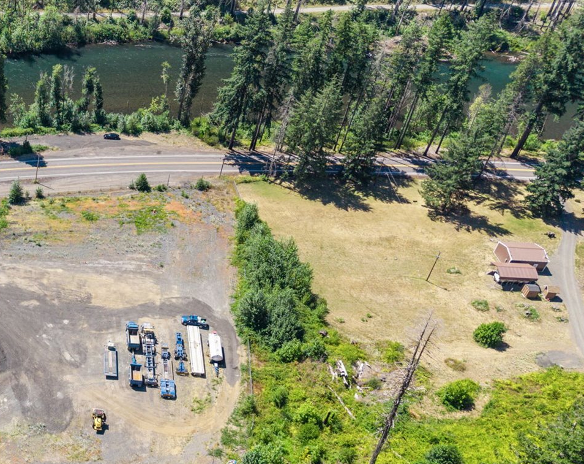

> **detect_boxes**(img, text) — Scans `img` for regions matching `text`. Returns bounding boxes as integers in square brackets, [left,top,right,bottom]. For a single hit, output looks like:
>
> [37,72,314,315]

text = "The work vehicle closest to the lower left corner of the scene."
[91,409,106,432]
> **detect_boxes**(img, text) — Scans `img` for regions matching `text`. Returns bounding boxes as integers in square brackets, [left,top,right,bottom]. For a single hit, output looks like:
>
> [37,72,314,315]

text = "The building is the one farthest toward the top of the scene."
[490,241,555,273]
